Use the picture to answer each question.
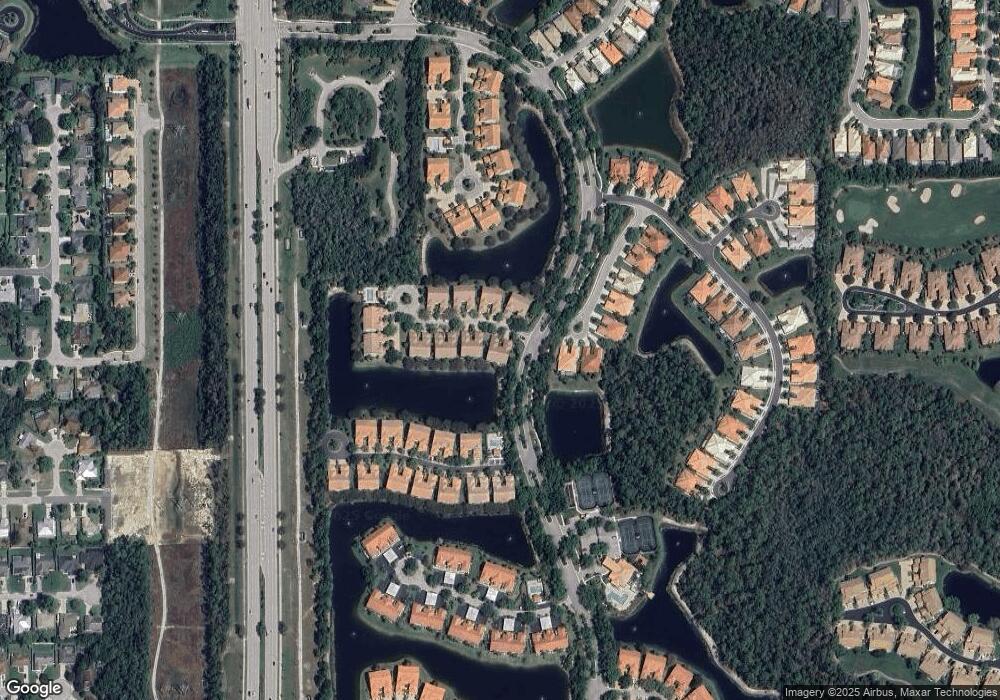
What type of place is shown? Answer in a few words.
residential area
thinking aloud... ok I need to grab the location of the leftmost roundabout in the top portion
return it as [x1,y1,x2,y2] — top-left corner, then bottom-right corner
[0,4,25,33]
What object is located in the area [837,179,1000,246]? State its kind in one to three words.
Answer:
golf course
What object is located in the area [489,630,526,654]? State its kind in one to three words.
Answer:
building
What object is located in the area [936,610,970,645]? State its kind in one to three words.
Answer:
house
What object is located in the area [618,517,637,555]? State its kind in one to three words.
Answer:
tennis court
